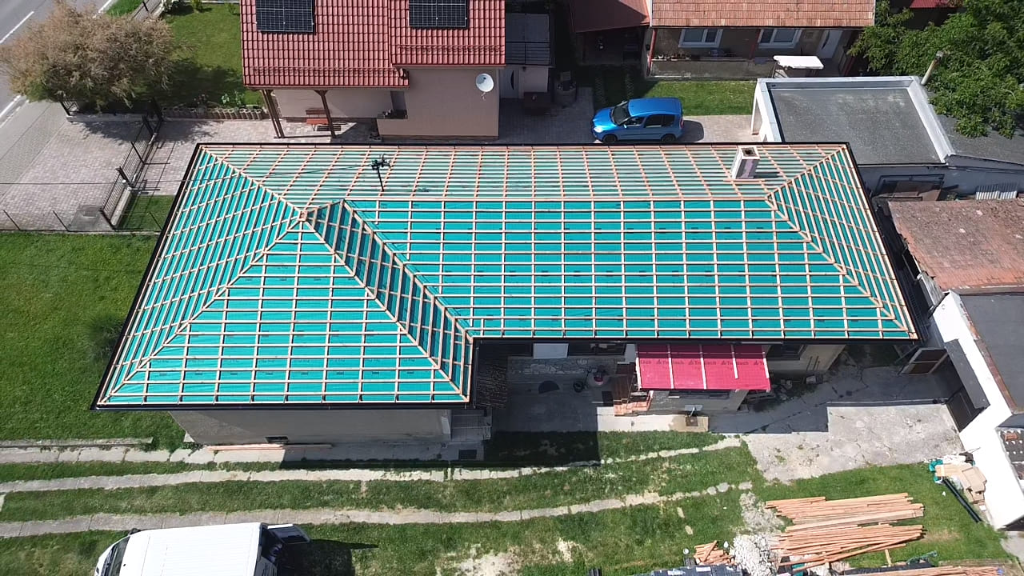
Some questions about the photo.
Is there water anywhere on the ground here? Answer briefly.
No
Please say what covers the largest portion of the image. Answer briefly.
buildings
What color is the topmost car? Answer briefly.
blue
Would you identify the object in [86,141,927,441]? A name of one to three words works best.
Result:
house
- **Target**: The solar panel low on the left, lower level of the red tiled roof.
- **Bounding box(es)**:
[254,0,314,32]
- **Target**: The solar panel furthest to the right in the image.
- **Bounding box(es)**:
[409,0,467,28]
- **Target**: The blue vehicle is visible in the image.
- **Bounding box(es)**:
[592,96,687,141]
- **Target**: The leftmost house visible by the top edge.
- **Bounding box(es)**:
[240,0,507,138]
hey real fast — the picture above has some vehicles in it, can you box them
[92,521,311,576]
[592,96,687,141]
